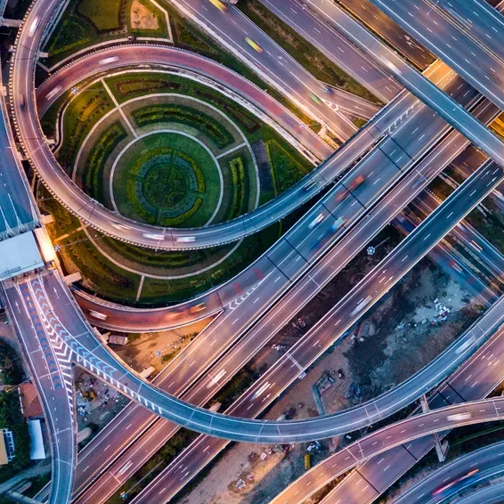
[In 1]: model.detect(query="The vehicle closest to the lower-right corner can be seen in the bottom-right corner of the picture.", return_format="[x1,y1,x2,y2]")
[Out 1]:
[441,474,466,494]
